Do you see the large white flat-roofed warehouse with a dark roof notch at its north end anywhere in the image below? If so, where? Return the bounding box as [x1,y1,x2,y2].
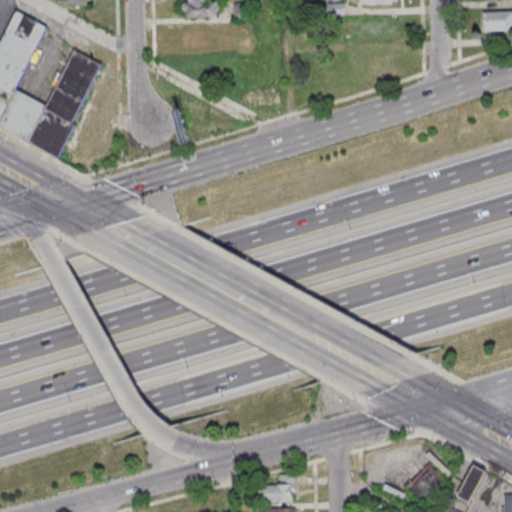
[0,10,48,94]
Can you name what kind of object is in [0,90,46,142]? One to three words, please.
building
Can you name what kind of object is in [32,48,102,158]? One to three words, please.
building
